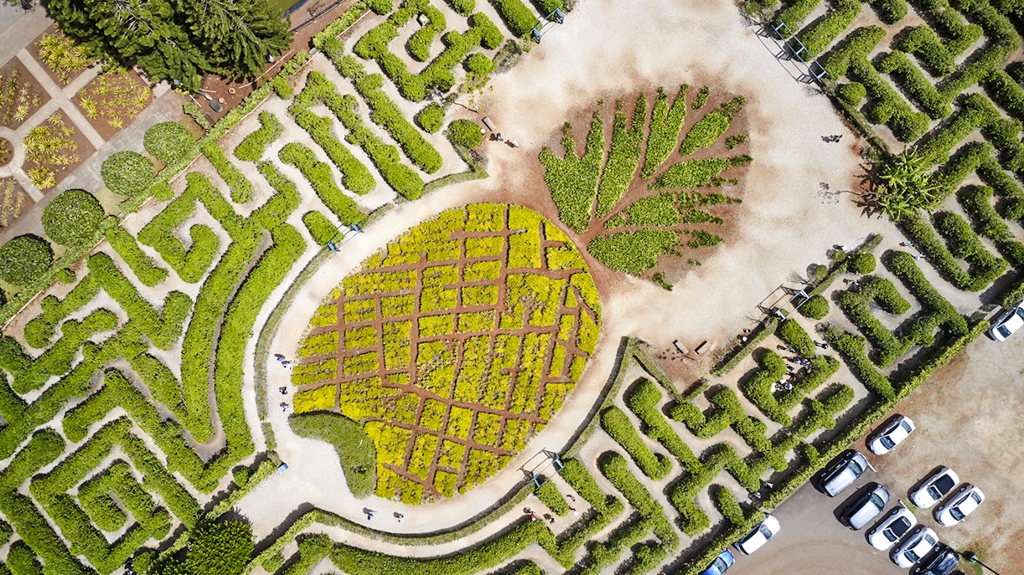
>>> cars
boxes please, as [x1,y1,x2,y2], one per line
[734,511,783,557]
[910,542,961,575]
[867,506,919,550]
[933,484,987,527]
[864,414,918,455]
[908,465,962,508]
[691,546,737,575]
[888,524,941,569]
[818,450,871,500]
[838,482,892,533]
